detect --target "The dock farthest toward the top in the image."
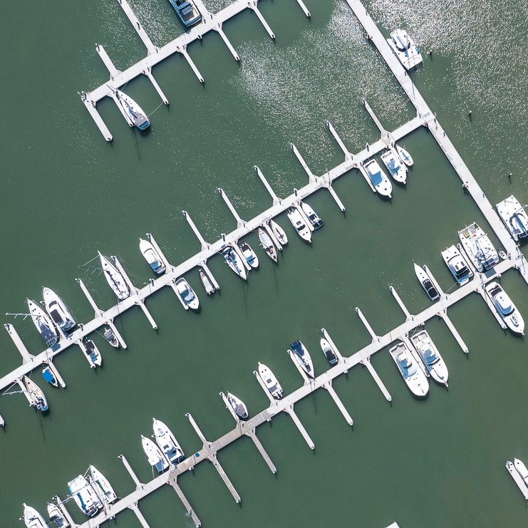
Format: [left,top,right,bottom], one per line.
[81,0,311,141]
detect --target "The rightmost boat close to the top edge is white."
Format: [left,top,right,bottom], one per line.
[391,26,431,72]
